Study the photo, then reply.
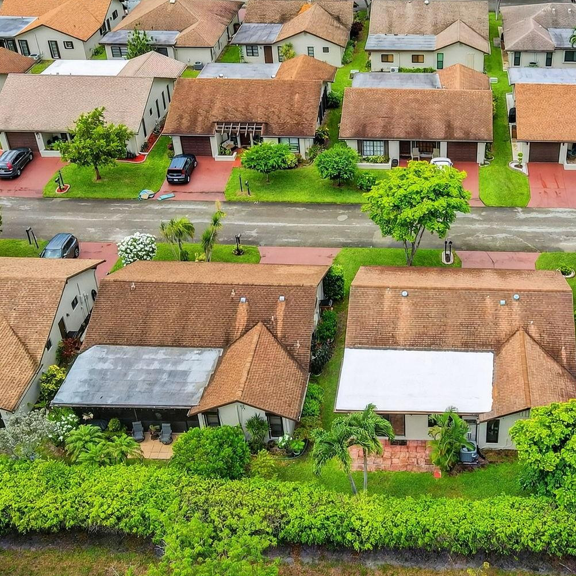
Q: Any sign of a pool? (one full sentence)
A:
No, there is no pool in the image.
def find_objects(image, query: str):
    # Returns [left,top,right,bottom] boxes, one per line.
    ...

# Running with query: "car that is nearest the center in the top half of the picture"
[166,151,200,179]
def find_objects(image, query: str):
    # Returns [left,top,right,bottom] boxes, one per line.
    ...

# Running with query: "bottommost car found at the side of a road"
[39,232,85,260]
